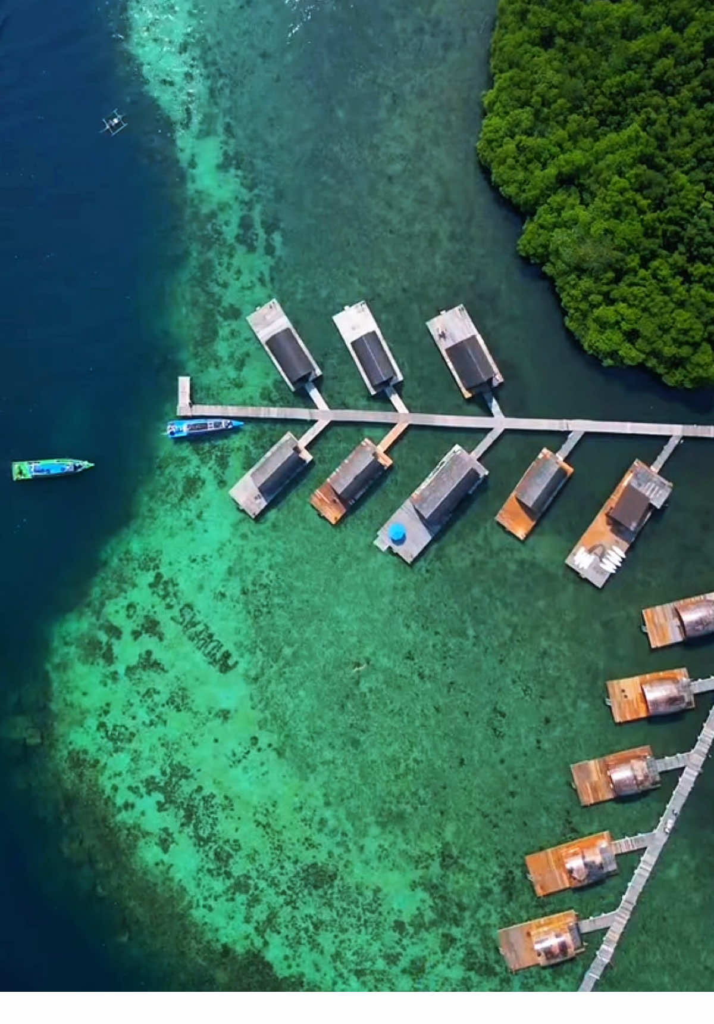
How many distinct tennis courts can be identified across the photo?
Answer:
0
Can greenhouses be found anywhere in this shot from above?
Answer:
No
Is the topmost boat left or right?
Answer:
left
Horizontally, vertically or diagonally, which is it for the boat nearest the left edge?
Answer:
horizontally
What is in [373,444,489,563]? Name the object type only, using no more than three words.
building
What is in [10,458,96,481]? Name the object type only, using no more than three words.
boat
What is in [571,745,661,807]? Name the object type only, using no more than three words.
building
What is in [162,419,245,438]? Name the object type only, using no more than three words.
boat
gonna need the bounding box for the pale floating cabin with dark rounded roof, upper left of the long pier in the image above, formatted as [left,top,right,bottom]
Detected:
[246,298,322,392]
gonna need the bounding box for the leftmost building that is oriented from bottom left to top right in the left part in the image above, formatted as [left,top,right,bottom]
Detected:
[229,432,315,519]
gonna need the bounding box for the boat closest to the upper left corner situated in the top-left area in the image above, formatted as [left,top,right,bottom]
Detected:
[101,108,128,136]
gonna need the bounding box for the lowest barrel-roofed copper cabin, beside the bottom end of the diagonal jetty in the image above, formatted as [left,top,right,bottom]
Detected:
[500,909,586,972]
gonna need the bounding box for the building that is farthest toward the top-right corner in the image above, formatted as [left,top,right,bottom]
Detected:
[426,303,504,401]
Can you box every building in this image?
[525,830,621,896]
[309,438,393,525]
[426,303,504,401]
[494,448,574,540]
[640,591,714,649]
[500,909,586,972]
[373,444,489,563]
[565,458,675,587]
[571,745,661,807]
[246,298,322,392]
[332,301,405,396]
[229,432,315,519]
[604,666,695,724]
